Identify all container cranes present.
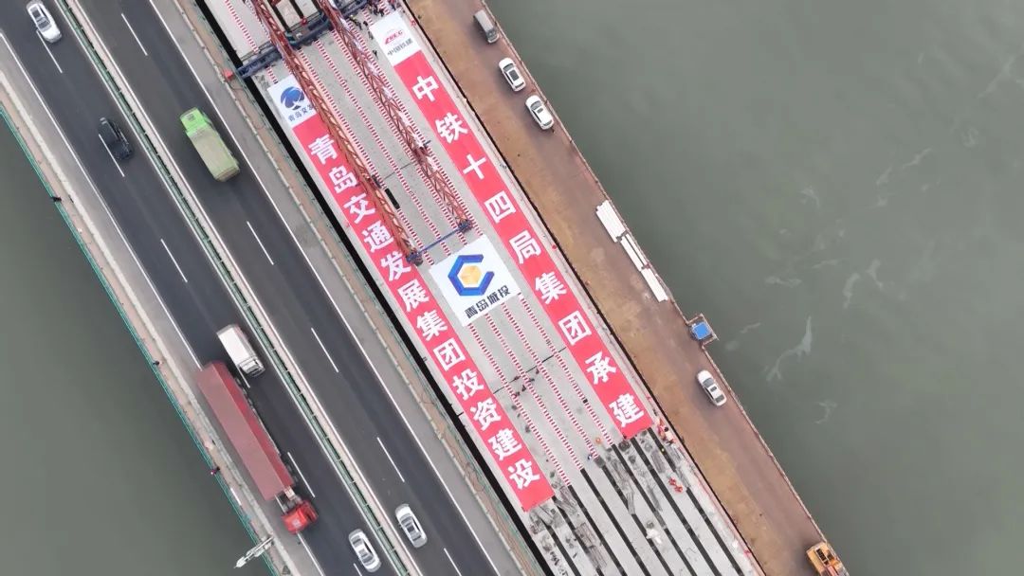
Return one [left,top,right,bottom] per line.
[240,0,476,267]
